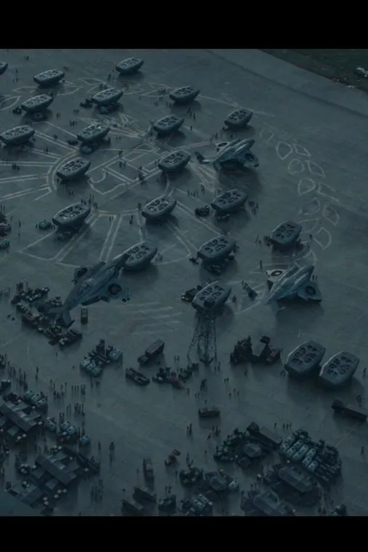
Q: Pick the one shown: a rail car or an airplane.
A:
airplane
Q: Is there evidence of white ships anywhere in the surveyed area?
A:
No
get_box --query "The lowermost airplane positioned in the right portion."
[250,269,314,313]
